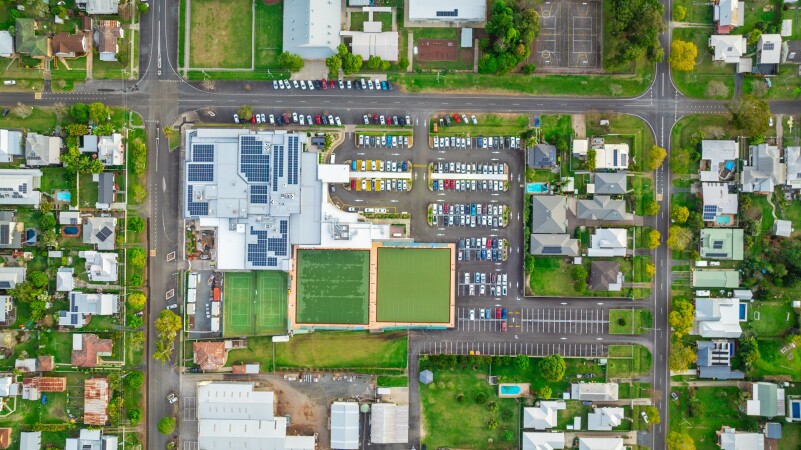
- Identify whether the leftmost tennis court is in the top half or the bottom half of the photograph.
bottom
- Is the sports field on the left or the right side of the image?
left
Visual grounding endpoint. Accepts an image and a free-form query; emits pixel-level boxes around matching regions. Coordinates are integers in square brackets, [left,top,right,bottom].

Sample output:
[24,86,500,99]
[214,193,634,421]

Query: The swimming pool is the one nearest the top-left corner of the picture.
[52,189,71,209]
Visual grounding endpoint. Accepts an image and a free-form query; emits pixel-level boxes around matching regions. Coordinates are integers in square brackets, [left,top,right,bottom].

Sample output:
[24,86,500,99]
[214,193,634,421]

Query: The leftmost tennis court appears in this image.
[224,272,256,337]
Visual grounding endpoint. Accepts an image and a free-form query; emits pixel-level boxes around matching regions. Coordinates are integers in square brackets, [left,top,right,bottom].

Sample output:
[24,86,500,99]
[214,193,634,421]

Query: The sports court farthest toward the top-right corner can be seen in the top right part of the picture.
[564,0,602,67]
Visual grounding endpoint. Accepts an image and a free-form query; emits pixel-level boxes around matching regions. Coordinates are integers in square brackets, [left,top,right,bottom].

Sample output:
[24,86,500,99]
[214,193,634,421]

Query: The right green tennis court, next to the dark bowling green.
[256,272,288,337]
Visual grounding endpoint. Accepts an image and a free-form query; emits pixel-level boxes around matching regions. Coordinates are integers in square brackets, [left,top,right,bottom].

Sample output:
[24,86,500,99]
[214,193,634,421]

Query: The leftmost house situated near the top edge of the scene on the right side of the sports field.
[283,0,342,61]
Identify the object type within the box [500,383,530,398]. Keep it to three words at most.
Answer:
swimming pool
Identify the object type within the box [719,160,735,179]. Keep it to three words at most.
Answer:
swimming pool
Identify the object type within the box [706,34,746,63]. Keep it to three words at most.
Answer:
house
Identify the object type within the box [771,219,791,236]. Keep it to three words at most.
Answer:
shed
